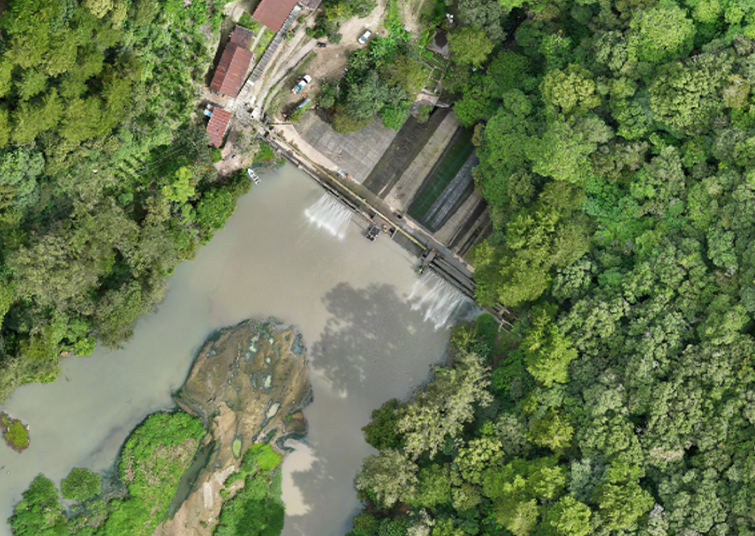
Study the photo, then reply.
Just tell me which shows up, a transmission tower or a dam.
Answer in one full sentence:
Visible in the photo is a dam.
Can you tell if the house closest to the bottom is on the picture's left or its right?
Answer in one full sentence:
You can find the house closest to the bottom on the left side of the picture.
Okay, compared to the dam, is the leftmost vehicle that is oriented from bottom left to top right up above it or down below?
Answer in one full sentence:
In the image, the leftmost vehicle that is oriented from bottom left to top right appears above the dam.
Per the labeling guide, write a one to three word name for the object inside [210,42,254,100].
house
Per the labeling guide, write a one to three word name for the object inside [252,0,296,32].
house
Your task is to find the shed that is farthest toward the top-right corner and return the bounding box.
[427,27,449,59]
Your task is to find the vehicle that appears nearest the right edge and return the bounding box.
[358,29,372,45]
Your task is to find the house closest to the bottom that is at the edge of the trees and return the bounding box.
[205,107,234,147]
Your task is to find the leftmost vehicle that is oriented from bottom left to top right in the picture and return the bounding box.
[292,74,312,95]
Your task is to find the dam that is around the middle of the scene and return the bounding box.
[264,117,490,306]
